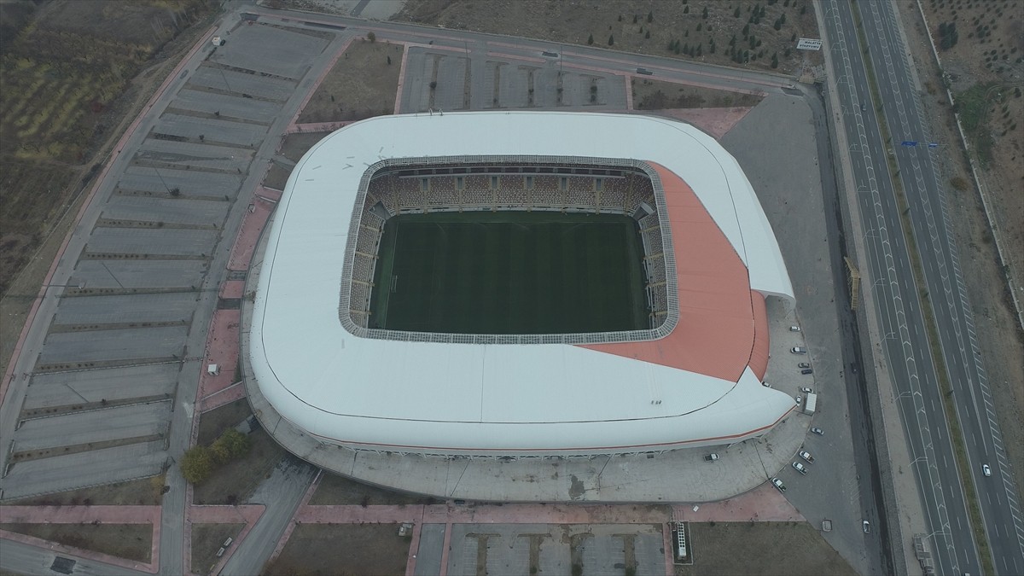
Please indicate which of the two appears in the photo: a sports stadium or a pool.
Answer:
sports stadium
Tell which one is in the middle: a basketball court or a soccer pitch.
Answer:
soccer pitch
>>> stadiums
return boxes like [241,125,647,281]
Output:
[237,110,815,505]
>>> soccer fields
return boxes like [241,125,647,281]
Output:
[367,210,654,342]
